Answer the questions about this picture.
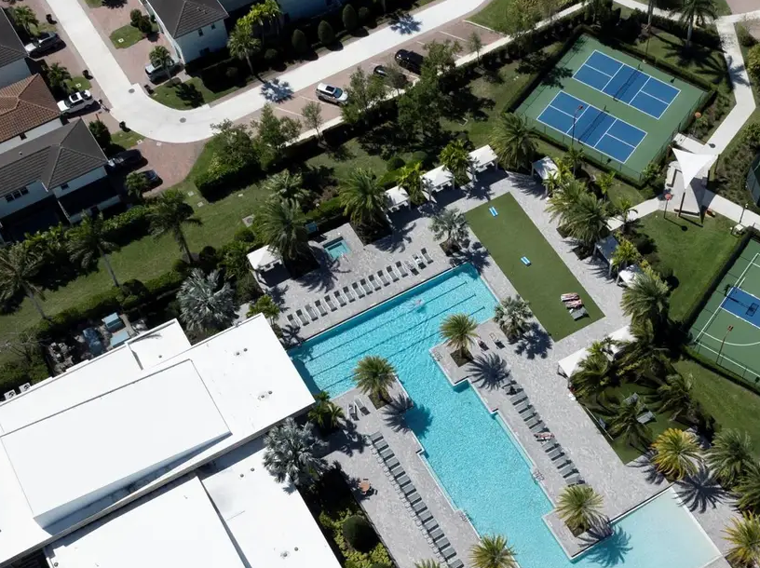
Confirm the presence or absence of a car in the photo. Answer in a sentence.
Yes, there is a car in the image.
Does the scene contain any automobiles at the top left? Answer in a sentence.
Yes, you'll find an automobile at the top left.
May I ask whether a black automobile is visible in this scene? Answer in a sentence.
Yes, the photo shows a black automobile.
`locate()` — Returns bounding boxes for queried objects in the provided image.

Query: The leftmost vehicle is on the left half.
[26,33,62,57]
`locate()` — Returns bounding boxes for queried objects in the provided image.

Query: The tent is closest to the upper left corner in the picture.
[249,243,285,283]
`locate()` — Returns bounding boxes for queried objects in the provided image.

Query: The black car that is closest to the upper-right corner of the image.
[395,45,429,71]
